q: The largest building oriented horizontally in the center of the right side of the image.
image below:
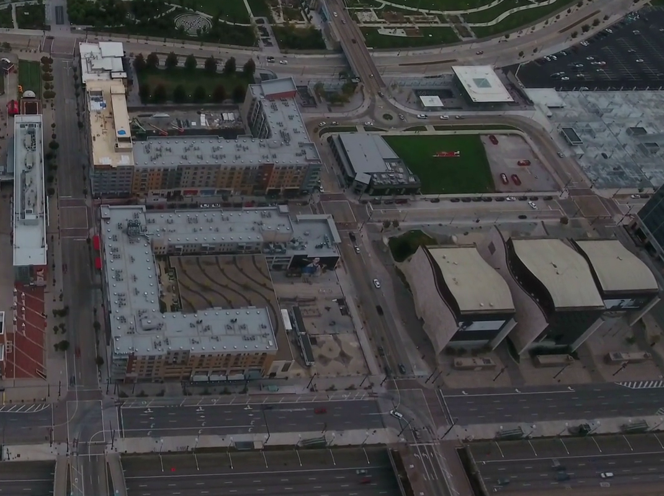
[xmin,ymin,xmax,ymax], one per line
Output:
[406,225,658,352]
